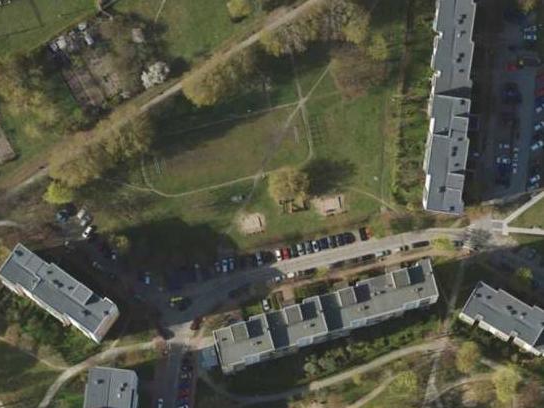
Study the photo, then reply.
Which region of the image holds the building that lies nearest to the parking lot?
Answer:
top right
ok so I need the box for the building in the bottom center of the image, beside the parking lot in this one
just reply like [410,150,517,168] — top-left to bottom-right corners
[214,259,444,376]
